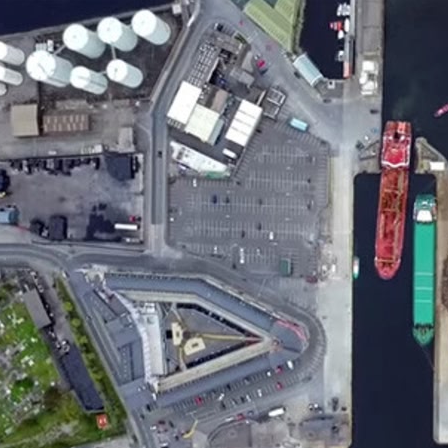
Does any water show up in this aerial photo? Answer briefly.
Yes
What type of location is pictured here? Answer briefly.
industrial area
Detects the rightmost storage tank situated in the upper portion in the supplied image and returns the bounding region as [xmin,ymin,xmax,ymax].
[131,8,171,45]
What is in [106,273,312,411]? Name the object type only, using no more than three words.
building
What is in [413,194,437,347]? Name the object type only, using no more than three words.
ship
